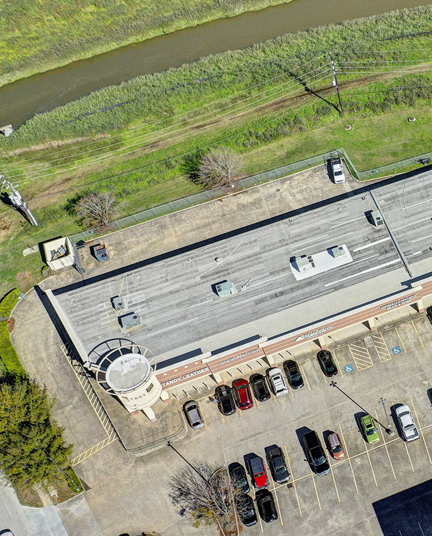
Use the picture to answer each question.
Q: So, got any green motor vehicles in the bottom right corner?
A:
Yes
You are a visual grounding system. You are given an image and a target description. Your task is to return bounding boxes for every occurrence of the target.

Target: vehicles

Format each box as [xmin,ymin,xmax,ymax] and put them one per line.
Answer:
[396,404,420,444]
[250,372,272,404]
[360,415,380,445]
[237,494,260,531]
[255,488,279,524]
[228,462,253,496]
[327,155,346,184]
[283,359,305,391]
[318,350,340,379]
[248,455,271,490]
[234,379,254,411]
[301,430,330,474]
[267,445,291,485]
[268,368,290,398]
[327,431,346,463]
[184,401,205,430]
[217,385,237,417]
